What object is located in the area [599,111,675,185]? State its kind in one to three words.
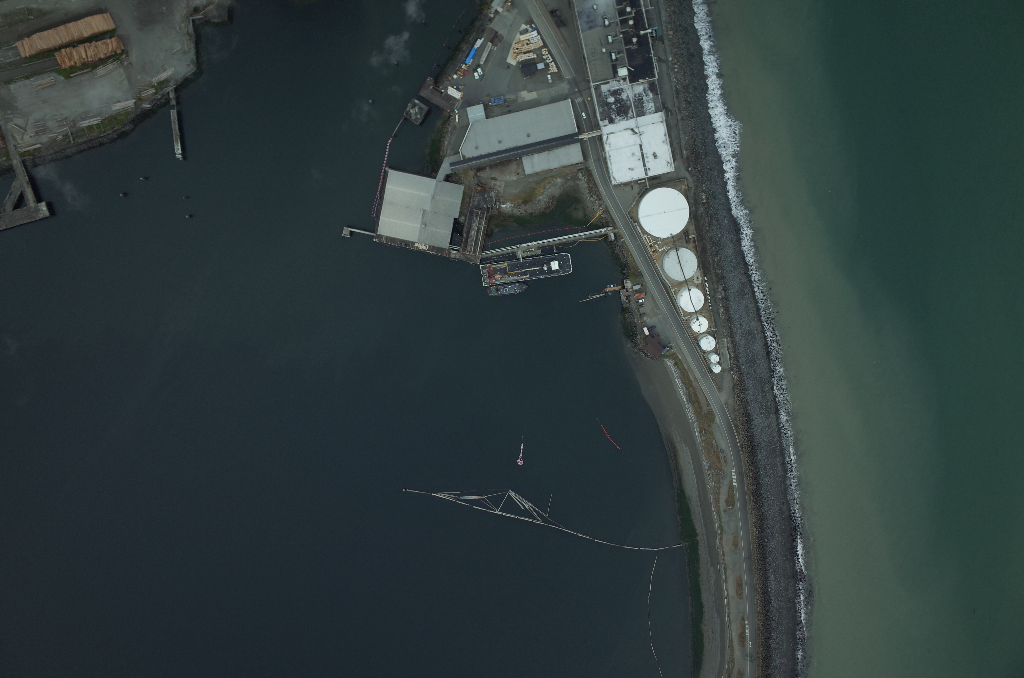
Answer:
building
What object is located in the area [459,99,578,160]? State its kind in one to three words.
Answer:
building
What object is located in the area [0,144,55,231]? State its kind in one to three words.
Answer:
pier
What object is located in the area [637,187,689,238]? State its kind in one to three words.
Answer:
storage tank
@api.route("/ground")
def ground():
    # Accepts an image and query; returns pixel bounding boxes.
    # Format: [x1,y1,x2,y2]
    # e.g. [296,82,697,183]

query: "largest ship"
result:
[480,253,573,286]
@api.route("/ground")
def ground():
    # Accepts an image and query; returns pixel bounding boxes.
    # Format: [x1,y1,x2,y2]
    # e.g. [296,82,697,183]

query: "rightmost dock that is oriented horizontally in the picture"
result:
[481,225,618,258]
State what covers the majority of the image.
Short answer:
water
